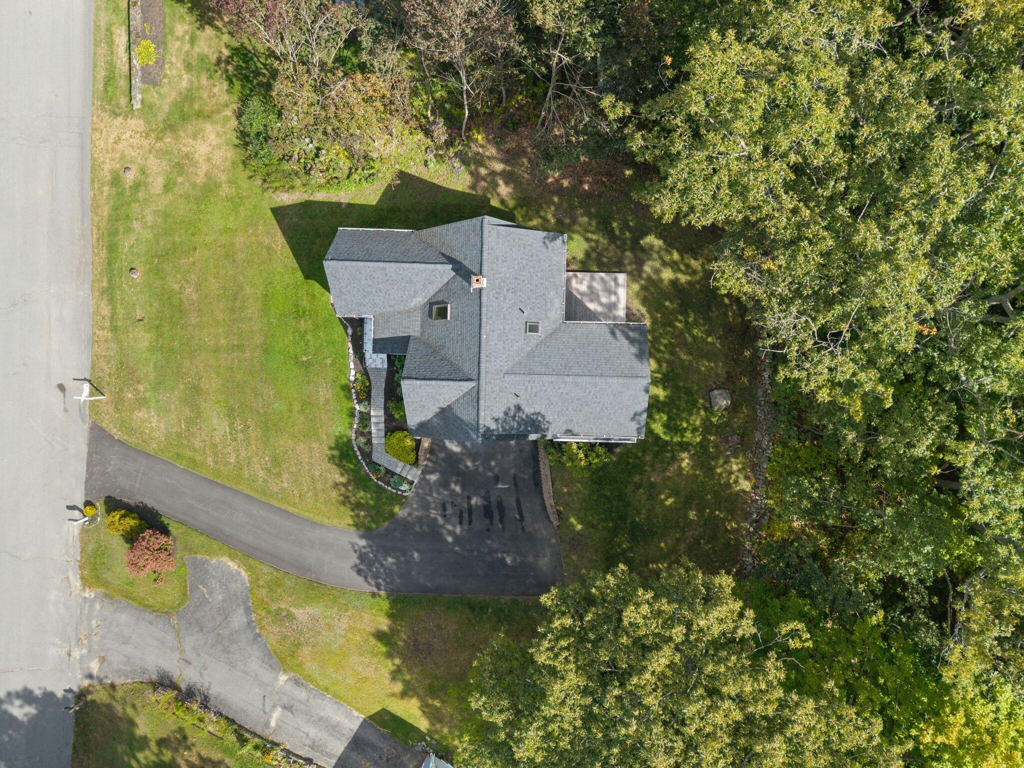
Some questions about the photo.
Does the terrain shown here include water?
No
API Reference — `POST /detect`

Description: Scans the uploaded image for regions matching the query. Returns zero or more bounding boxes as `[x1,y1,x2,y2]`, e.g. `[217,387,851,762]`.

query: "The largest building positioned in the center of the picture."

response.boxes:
[323,215,652,445]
